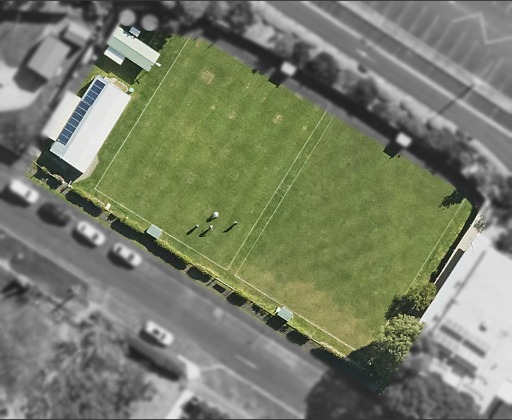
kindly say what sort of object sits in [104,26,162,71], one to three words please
building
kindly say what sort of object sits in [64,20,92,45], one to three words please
building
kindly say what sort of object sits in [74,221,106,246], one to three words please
car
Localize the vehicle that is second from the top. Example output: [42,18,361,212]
[40,200,68,224]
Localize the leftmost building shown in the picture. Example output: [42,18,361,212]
[27,34,70,81]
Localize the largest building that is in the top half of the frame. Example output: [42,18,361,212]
[42,76,132,174]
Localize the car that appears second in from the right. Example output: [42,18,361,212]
[112,243,142,266]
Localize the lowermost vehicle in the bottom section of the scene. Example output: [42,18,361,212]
[144,320,174,344]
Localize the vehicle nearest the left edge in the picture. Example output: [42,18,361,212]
[8,178,40,205]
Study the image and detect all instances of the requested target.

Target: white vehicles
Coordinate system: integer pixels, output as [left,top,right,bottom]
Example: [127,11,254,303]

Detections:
[112,243,142,266]
[144,320,174,344]
[74,221,106,246]
[8,178,40,205]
